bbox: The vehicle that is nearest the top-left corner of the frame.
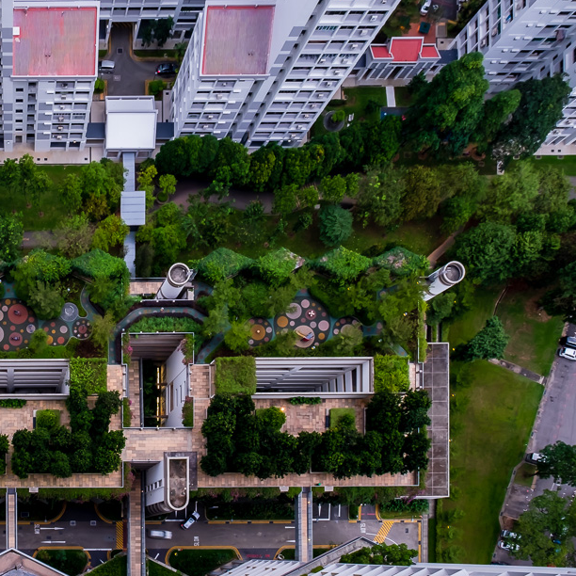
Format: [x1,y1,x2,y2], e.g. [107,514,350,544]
[98,60,116,74]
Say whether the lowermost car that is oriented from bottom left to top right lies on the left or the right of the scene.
left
